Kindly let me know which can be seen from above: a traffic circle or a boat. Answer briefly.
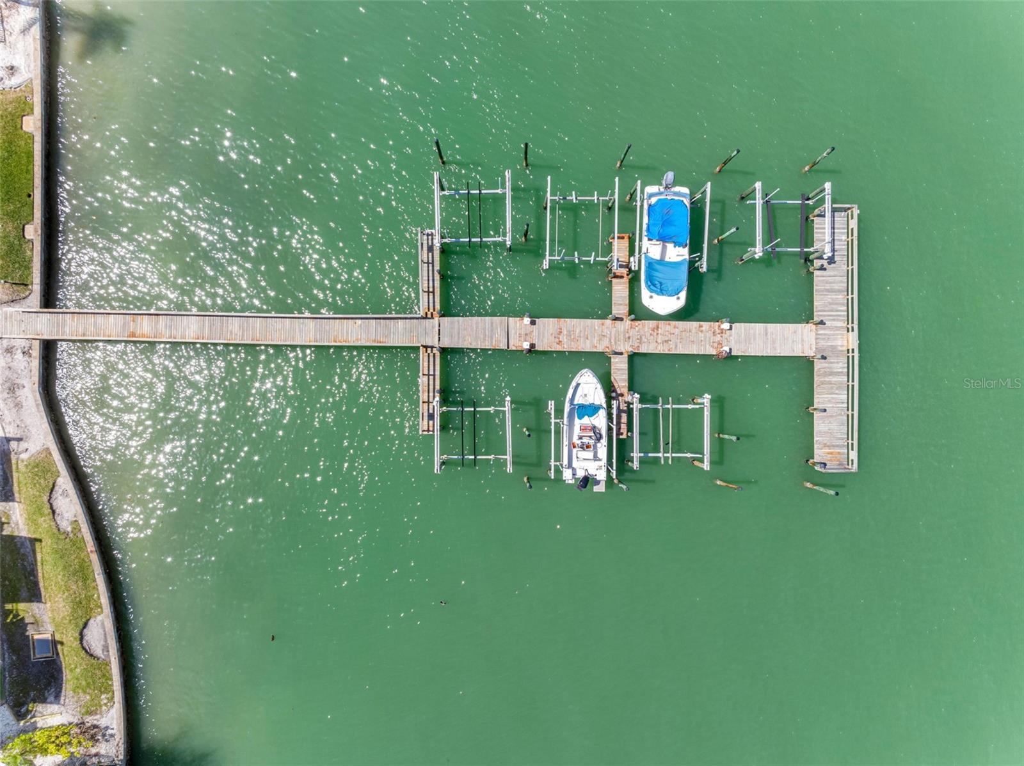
boat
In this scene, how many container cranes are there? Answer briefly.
0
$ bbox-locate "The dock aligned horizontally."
[0,205,858,472]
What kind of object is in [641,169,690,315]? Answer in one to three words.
boat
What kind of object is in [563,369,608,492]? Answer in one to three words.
boat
